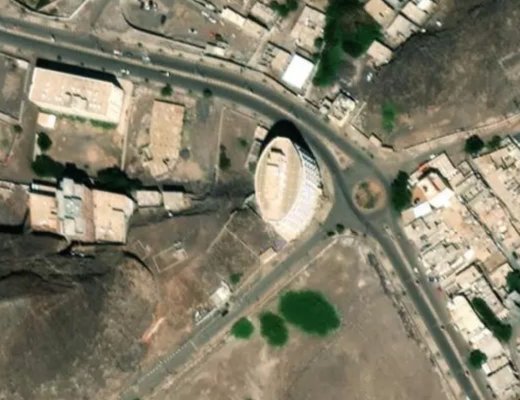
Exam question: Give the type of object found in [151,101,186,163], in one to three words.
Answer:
building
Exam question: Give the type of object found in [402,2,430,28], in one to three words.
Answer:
house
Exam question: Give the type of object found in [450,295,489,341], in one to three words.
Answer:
house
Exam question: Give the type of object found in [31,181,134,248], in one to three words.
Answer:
building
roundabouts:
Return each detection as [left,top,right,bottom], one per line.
[354,179,387,212]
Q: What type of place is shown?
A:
residential area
